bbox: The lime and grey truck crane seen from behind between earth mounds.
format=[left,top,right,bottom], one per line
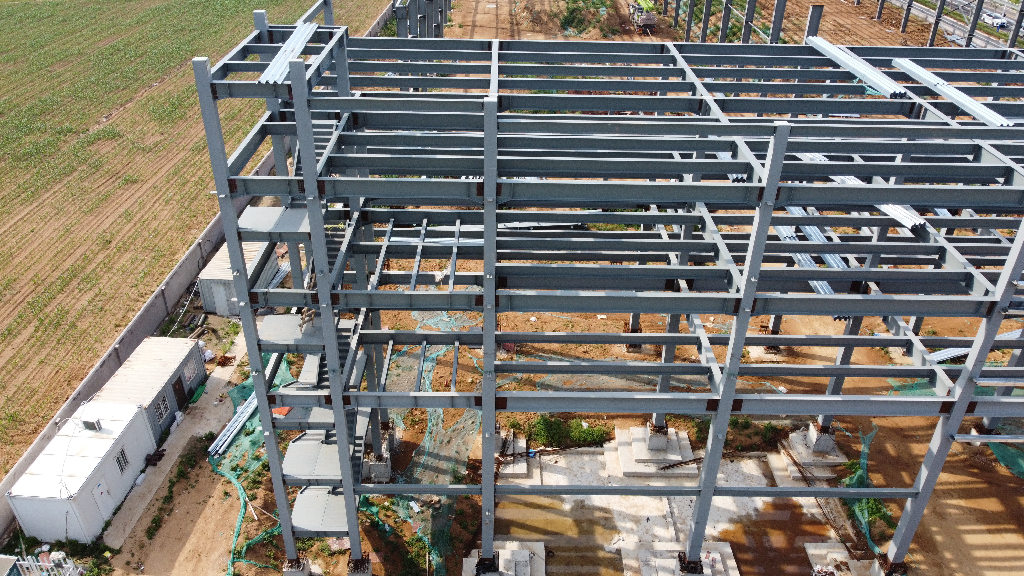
[619,0,650,29]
